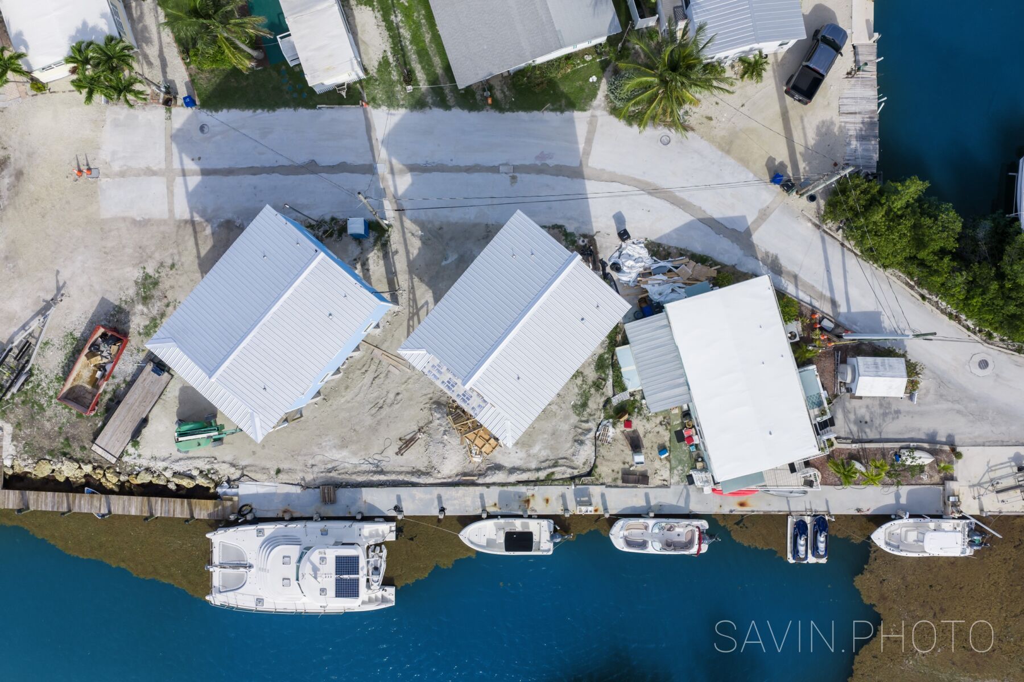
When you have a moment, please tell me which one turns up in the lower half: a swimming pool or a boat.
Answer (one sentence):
The feature located in the lower half is a boat.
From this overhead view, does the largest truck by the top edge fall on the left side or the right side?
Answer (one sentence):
The largest truck by the top edge is on the right side of the image.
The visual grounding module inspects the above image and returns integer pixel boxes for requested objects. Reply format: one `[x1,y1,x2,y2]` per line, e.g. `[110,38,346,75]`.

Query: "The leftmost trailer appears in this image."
[0,297,63,402]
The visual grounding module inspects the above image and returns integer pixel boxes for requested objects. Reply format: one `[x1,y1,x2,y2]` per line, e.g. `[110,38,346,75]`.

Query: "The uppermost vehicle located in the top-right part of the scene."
[780,18,850,112]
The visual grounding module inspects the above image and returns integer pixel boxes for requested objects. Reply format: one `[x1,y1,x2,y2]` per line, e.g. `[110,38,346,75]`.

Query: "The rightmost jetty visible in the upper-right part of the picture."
[838,42,879,172]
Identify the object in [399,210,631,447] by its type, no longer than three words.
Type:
house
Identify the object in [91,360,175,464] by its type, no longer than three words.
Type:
trailer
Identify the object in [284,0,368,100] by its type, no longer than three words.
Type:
house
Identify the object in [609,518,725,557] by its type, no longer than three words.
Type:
boat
